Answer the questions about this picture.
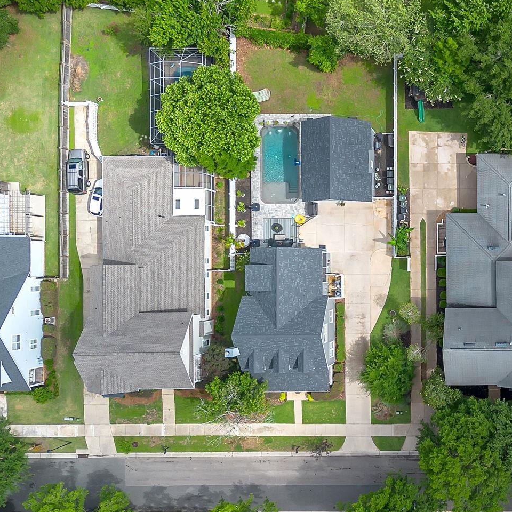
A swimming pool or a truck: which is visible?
swimming pool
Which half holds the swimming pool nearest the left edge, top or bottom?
top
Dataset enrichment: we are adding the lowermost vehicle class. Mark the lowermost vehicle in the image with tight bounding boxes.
[84,174,102,215]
